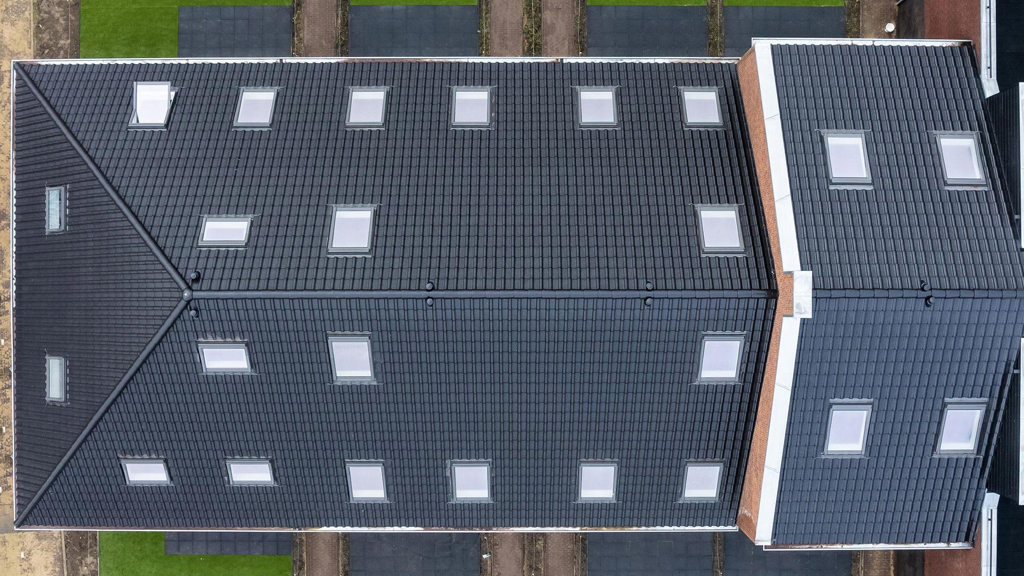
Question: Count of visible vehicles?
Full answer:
The picture shows no vehicles.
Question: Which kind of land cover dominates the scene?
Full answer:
What you mostly see from above here is buildings.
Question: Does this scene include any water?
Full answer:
No, there is no water in the image.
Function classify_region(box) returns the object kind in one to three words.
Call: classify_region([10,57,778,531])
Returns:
house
